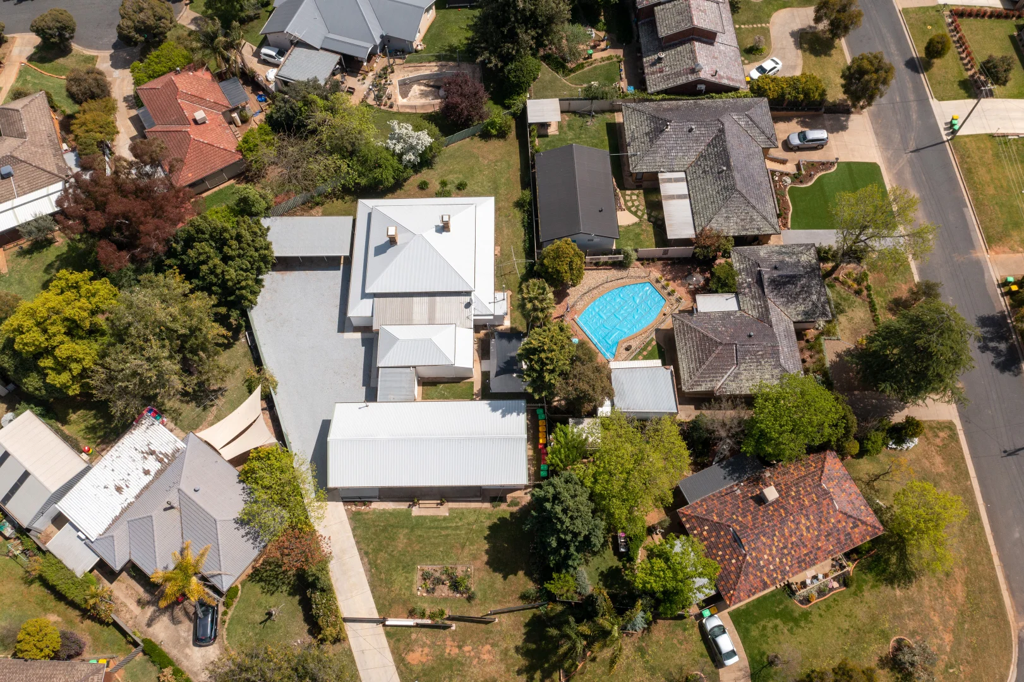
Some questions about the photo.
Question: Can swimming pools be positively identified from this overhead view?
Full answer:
Yes, the picture does show a swimming pool.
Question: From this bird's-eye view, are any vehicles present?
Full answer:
Yes, there is a vehicle in the image.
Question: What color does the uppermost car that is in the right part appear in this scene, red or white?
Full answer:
In this view, the uppermost car that is in the right part is white.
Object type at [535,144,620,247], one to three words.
shed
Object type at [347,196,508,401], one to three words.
house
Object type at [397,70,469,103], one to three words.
swimming pool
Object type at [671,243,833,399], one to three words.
house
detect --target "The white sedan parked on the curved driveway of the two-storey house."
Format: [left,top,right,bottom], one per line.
[750,54,785,81]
